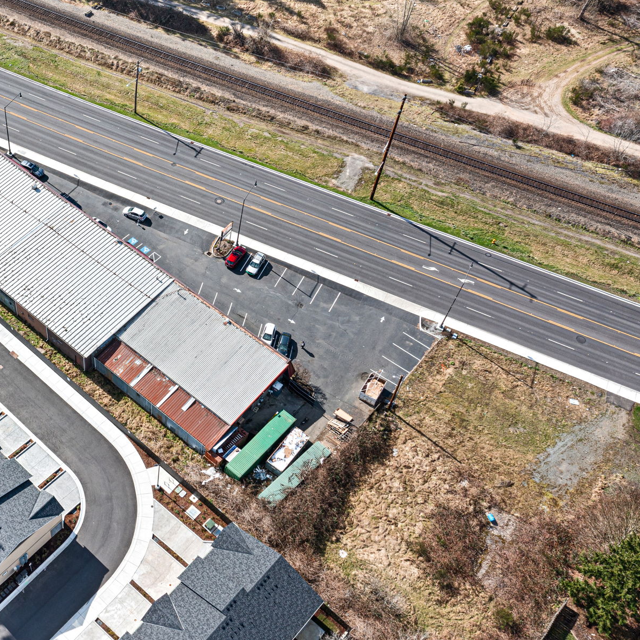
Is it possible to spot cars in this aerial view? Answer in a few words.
Yes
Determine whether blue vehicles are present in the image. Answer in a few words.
Yes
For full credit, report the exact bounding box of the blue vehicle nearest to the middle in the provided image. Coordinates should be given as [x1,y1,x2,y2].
[277,330,294,353]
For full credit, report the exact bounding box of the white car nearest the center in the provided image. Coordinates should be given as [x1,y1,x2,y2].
[262,320,278,342]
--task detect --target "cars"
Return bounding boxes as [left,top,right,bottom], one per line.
[262,320,278,342]
[245,250,266,276]
[122,207,149,223]
[59,191,82,210]
[277,330,294,353]
[19,159,46,180]
[225,245,246,270]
